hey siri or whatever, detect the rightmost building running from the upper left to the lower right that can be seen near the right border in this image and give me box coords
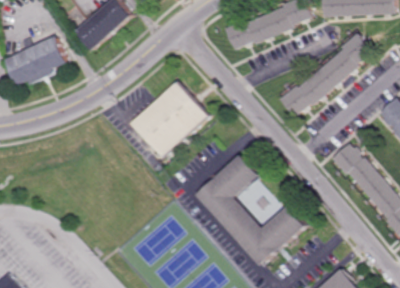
[334,143,400,237]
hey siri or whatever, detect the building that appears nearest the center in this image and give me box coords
[128,83,208,158]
